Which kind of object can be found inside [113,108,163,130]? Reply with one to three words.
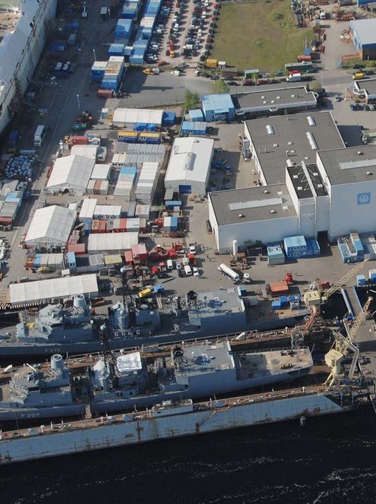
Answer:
tent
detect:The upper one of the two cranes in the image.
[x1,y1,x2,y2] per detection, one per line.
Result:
[295,264,367,339]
